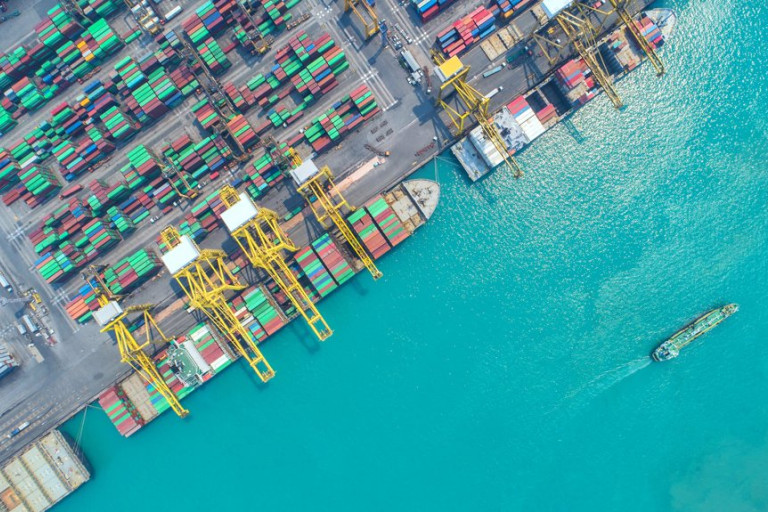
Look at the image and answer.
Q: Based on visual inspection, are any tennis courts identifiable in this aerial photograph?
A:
No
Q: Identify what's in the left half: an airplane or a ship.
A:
ship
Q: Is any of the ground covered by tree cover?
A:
No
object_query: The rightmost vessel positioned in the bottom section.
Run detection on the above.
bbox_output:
[646,301,738,362]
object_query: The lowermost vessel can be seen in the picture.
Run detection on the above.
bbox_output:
[0,423,100,512]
